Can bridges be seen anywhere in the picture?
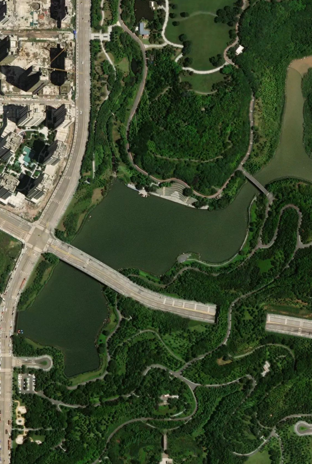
Yes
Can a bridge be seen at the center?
Yes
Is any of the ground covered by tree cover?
Yes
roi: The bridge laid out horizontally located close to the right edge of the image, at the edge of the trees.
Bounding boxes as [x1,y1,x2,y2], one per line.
[265,316,312,337]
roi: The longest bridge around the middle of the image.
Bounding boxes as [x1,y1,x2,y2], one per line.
[42,235,215,321]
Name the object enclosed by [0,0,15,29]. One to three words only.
building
